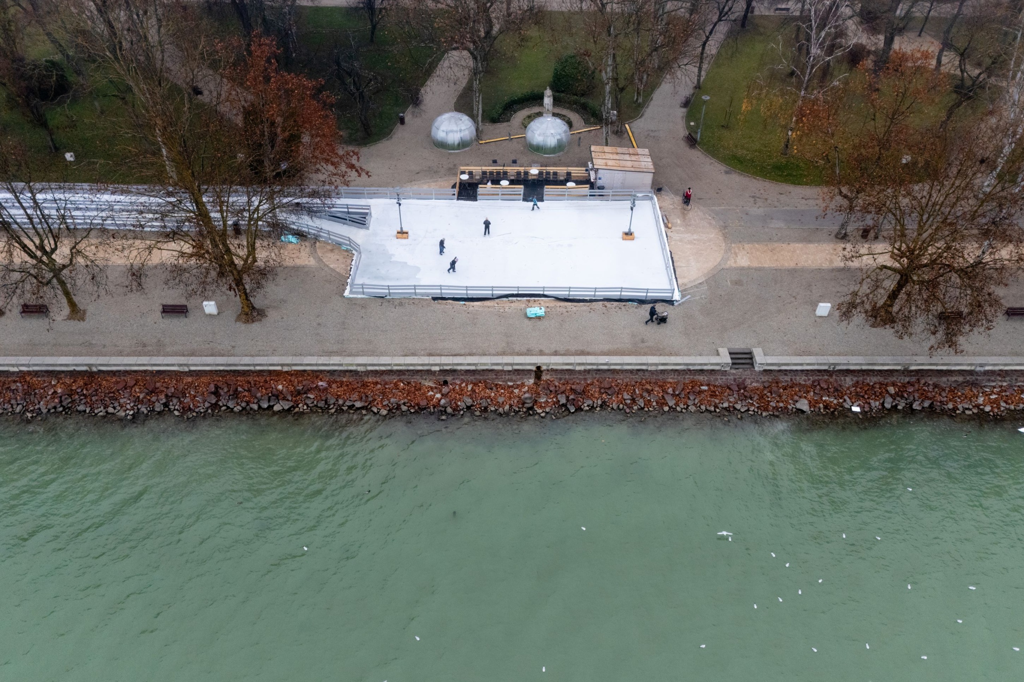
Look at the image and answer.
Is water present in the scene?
Yes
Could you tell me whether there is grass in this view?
Yes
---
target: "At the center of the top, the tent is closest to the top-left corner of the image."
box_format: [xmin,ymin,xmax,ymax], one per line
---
[430,109,476,151]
